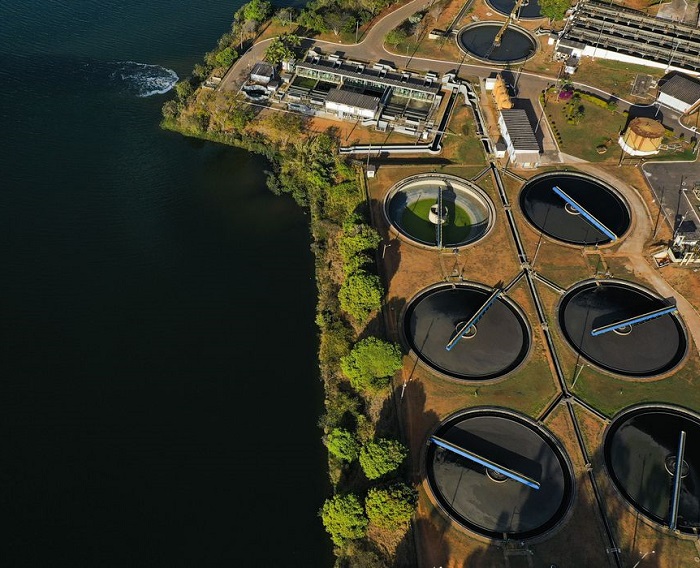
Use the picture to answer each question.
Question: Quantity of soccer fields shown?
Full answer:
The photo contains no soccer fields.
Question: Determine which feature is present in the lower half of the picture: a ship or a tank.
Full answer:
There is a tank in the lower half of the picture.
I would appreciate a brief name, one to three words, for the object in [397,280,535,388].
storage tank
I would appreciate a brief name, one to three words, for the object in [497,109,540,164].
building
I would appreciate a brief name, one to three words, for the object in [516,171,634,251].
storage tank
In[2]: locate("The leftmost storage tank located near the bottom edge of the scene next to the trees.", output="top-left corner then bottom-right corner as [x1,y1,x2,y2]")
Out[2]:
[418,403,578,550]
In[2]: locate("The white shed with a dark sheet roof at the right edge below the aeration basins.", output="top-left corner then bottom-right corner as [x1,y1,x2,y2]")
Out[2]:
[657,70,700,116]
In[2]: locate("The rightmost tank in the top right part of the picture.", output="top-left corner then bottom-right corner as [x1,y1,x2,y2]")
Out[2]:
[623,112,670,151]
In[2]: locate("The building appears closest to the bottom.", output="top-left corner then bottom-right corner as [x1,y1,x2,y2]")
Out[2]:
[669,231,700,264]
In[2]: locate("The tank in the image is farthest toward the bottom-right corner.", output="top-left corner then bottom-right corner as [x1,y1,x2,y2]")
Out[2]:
[597,398,700,541]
